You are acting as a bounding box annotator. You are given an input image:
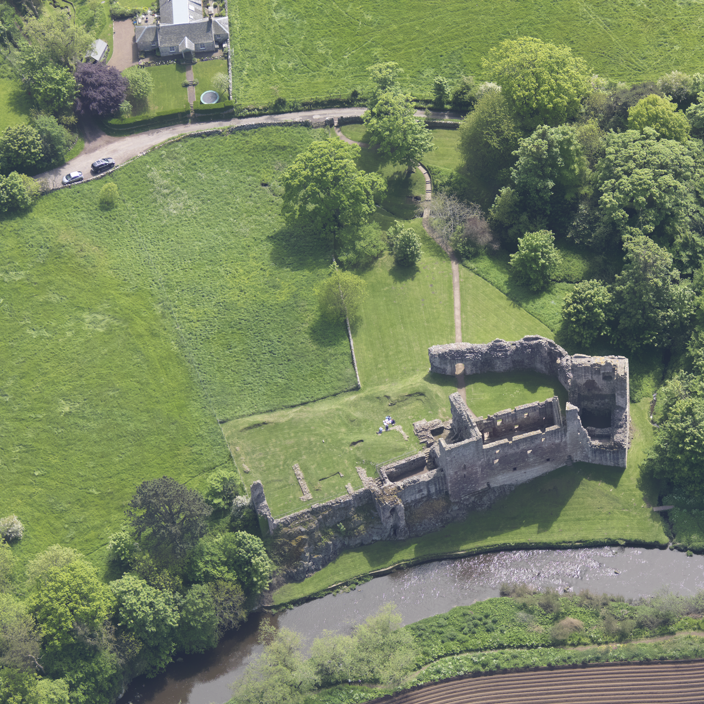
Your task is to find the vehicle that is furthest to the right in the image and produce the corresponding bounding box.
[90,156,116,172]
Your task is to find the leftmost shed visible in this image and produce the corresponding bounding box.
[85,34,106,60]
